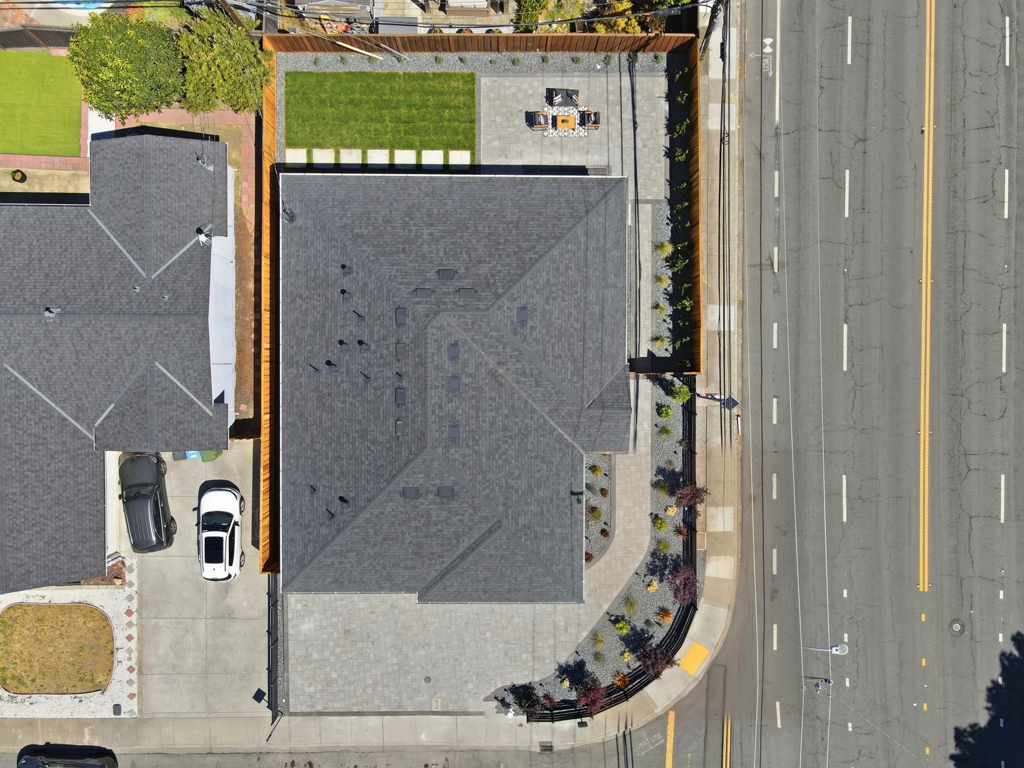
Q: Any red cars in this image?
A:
No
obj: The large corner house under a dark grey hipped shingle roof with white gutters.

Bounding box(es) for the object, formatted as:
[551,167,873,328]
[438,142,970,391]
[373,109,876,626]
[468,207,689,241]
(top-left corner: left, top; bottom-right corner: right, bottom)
[278,172,633,605]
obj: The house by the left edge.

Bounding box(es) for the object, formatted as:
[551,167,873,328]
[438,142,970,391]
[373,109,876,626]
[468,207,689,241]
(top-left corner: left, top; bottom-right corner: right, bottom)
[0,131,247,593]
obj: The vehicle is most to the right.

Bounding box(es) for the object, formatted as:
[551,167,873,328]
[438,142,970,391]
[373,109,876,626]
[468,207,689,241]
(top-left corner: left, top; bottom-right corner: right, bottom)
[192,485,246,585]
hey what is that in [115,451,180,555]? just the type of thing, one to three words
car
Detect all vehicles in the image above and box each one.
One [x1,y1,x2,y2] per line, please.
[16,750,120,768]
[115,451,180,555]
[192,485,246,585]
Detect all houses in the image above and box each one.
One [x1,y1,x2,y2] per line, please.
[278,172,633,605]
[0,131,247,593]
